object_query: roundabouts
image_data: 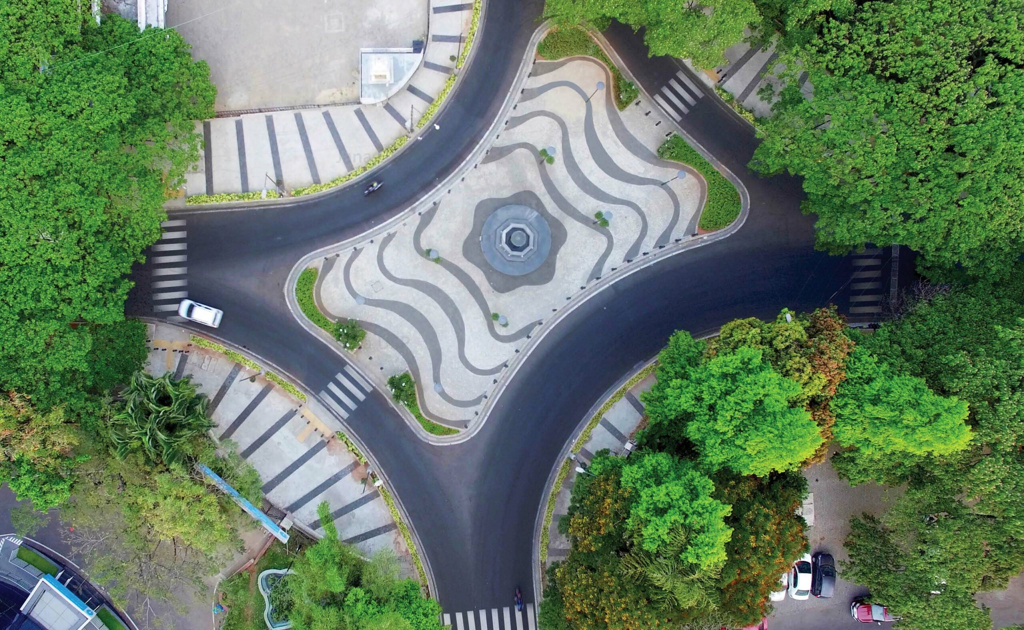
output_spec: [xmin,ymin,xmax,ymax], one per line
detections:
[284,14,750,446]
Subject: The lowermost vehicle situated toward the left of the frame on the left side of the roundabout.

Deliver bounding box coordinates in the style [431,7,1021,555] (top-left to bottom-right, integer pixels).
[178,300,224,328]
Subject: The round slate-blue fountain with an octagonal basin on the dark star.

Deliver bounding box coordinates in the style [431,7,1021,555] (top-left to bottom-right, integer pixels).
[480,204,552,275]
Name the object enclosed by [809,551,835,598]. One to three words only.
car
